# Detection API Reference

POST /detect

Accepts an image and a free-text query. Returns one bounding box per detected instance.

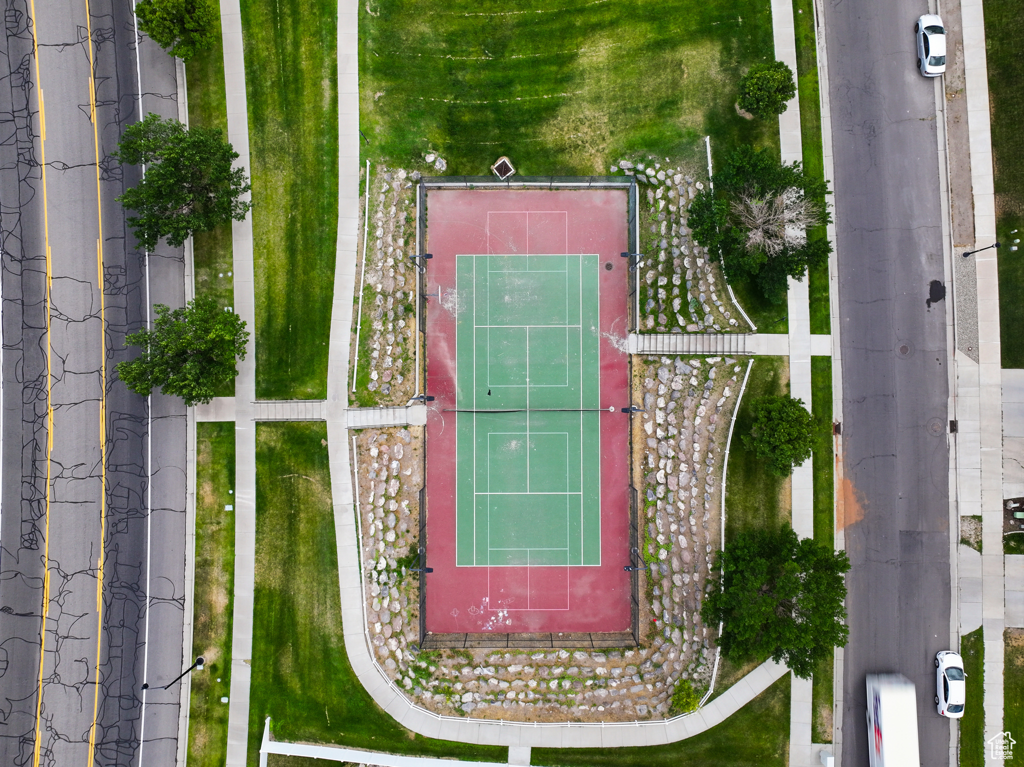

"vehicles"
[912,15,949,80]
[865,670,919,767]
[932,650,970,717]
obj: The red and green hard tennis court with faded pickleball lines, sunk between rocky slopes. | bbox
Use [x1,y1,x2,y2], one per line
[426,190,631,633]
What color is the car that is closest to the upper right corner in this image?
white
